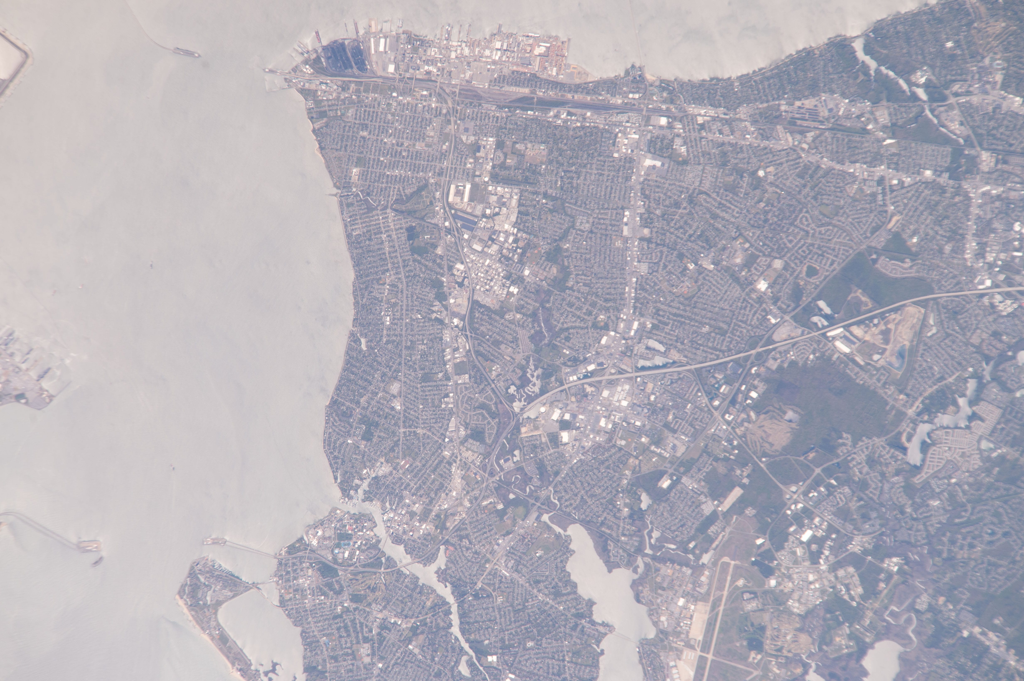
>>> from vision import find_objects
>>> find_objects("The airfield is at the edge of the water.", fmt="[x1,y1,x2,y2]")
[672,524,788,681]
